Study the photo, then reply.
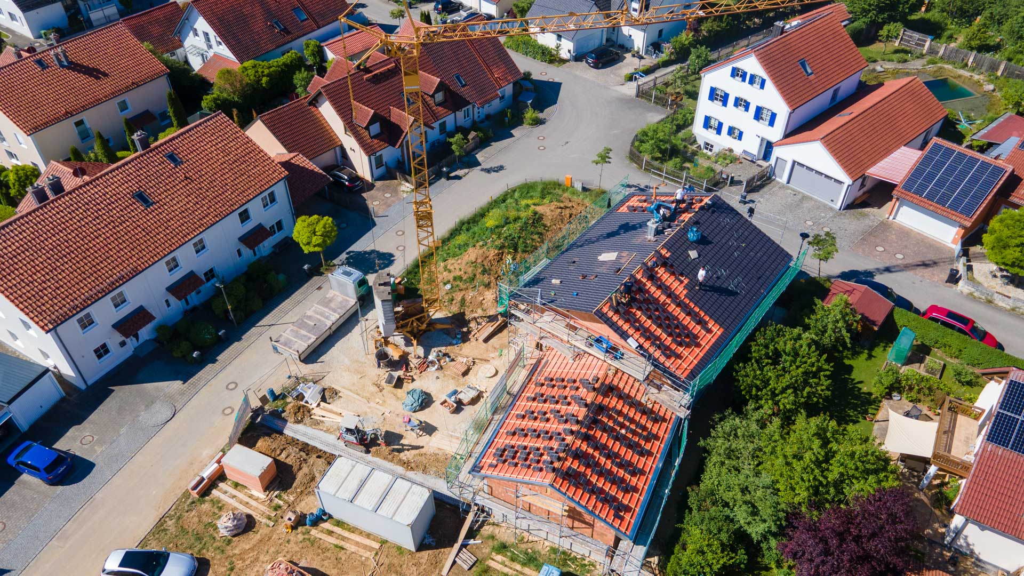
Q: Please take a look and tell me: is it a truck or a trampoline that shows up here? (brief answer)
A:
truck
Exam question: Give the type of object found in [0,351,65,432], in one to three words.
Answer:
building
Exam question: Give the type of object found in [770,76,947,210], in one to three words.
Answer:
building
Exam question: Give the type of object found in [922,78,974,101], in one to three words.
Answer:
swimming pool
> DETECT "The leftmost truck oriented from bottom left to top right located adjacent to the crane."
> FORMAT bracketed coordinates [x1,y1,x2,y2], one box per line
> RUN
[266,270,365,371]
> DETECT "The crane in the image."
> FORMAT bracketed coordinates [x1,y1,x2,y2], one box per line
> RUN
[338,0,834,358]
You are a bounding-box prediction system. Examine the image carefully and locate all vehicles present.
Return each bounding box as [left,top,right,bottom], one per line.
[4,445,78,489]
[100,547,201,576]
[923,308,994,348]
[266,270,365,371]
[330,167,368,196]
[435,0,463,15]
[585,47,619,68]
[853,274,917,316]
[464,10,496,19]
[339,407,396,450]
